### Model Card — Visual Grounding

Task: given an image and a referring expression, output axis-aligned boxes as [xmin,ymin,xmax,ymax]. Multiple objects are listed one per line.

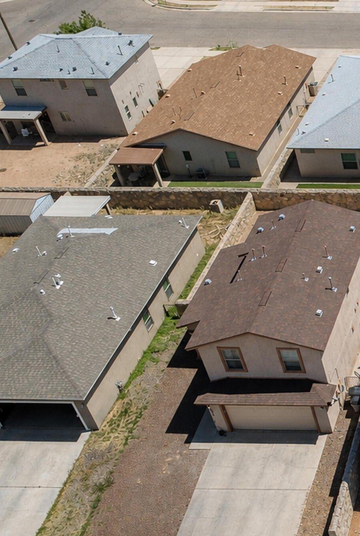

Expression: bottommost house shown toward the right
[178,199,360,433]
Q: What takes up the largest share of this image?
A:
buildings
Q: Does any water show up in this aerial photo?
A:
No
